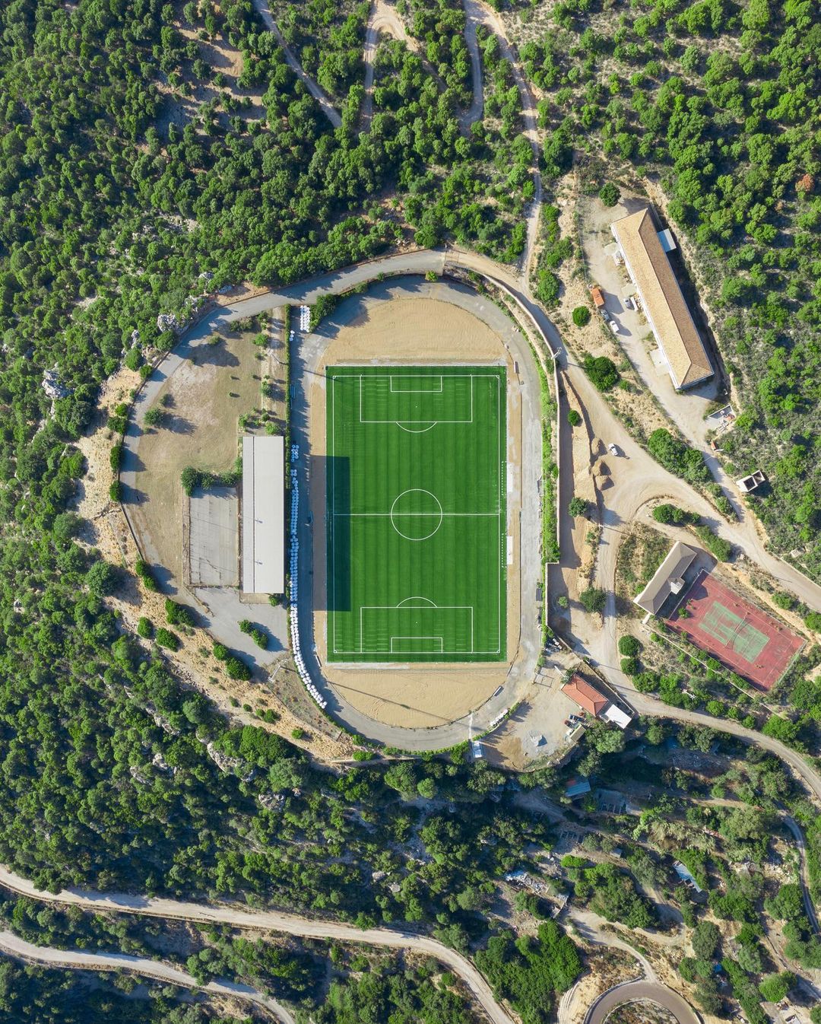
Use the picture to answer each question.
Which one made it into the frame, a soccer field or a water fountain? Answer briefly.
soccer field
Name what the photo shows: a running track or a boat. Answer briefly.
running track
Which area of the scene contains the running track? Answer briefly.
center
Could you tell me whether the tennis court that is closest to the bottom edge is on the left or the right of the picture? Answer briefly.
right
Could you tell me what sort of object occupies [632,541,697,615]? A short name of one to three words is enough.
building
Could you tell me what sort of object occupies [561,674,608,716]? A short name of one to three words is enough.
house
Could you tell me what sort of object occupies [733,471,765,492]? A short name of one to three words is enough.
building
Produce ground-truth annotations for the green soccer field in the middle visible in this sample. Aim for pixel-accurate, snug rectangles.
[325,365,508,663]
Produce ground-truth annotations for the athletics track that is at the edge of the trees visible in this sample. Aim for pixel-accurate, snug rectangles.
[291,275,542,752]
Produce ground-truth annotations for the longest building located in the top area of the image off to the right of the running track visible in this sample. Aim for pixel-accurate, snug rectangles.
[612,208,715,387]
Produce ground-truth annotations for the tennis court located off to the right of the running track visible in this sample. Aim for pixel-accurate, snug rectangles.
[666,570,811,693]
